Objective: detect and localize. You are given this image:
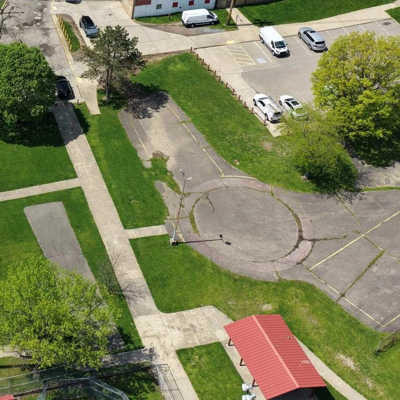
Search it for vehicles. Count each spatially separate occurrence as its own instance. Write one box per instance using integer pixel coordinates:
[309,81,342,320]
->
[294,26,330,53]
[176,6,223,30]
[275,94,311,122]
[53,74,74,102]
[246,92,289,126]
[256,21,292,59]
[78,14,99,37]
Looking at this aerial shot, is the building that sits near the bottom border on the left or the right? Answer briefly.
right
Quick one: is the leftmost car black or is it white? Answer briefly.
black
